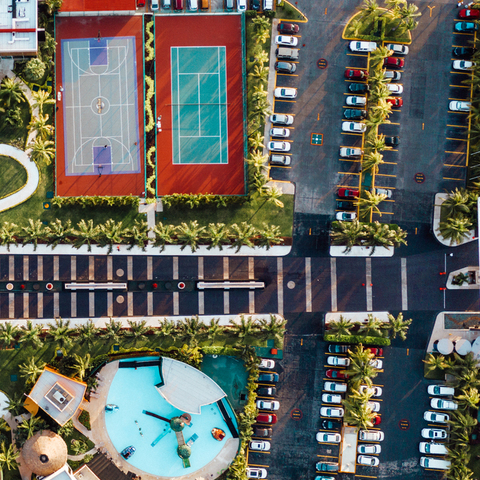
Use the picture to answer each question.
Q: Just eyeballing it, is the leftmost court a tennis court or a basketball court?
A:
basketball court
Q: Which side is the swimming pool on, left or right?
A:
left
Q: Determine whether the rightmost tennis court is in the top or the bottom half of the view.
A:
top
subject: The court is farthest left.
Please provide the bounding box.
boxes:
[56,15,145,196]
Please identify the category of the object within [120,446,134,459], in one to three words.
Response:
boat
